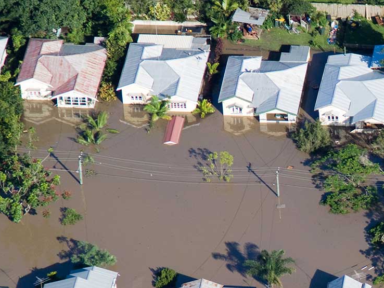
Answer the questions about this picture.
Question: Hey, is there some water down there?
Yes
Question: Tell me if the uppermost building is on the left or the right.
right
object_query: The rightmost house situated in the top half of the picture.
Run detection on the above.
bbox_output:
[314,45,384,138]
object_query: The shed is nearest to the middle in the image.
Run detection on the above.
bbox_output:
[164,116,184,147]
